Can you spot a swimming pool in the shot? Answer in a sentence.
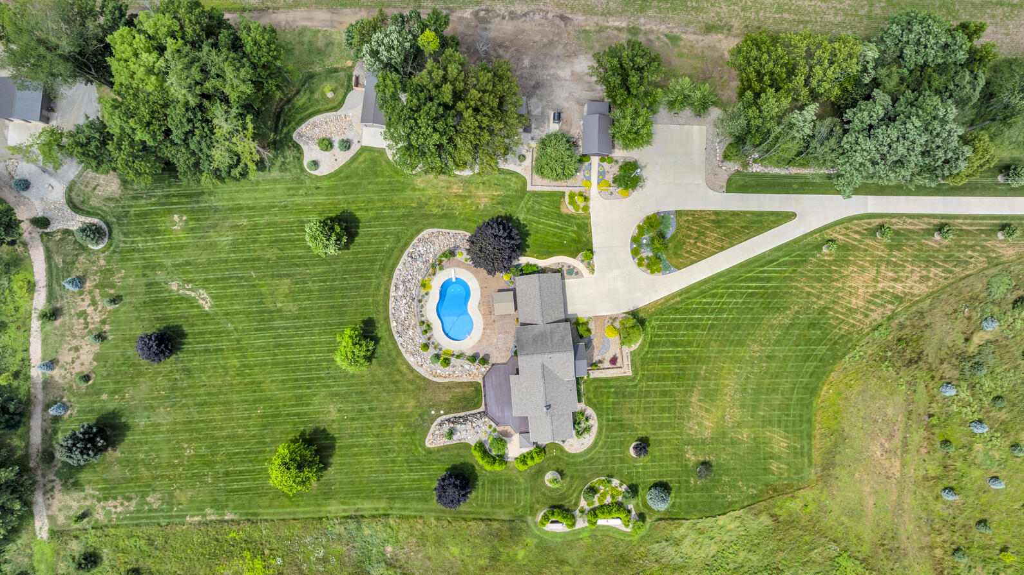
Yes, the picture does show a swimming pool.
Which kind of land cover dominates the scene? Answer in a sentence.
Most of the picture is covered by grass.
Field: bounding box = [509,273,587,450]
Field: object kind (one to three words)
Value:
house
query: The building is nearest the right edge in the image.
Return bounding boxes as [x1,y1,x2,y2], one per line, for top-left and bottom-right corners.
[583,102,612,158]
